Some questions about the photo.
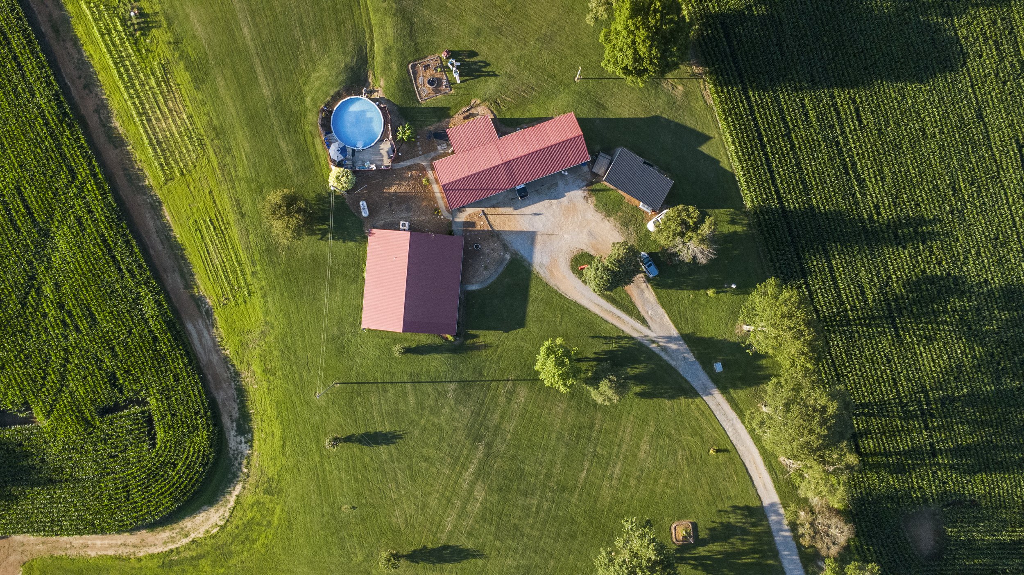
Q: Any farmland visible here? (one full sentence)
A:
Yes, some farmland is visible.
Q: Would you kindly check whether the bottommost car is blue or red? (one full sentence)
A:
The bottommost car looks blue in the image.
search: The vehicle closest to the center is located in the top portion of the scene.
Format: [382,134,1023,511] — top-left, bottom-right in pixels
[514,184,532,205]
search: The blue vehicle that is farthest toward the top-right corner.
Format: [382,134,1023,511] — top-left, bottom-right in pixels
[639,251,662,281]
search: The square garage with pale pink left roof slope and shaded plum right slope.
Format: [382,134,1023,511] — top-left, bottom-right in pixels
[361,229,465,339]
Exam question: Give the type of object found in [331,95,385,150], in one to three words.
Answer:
swimming pool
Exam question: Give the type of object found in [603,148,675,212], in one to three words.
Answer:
shed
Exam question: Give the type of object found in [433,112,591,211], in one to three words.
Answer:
house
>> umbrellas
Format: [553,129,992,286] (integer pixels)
[330,142,348,160]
